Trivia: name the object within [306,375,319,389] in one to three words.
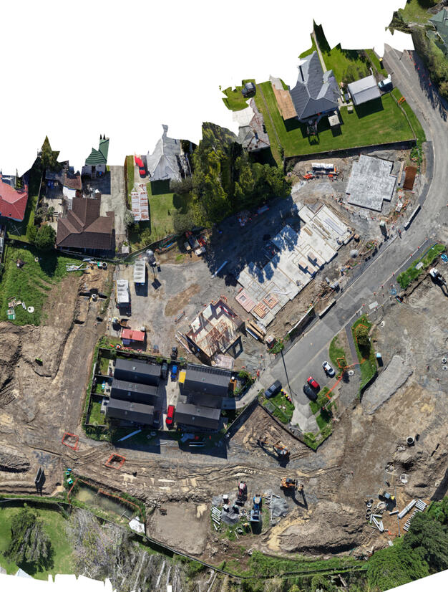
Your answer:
vehicle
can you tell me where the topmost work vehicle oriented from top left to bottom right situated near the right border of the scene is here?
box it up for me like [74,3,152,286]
[427,266,448,287]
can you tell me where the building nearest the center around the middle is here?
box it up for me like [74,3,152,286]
[185,300,244,358]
